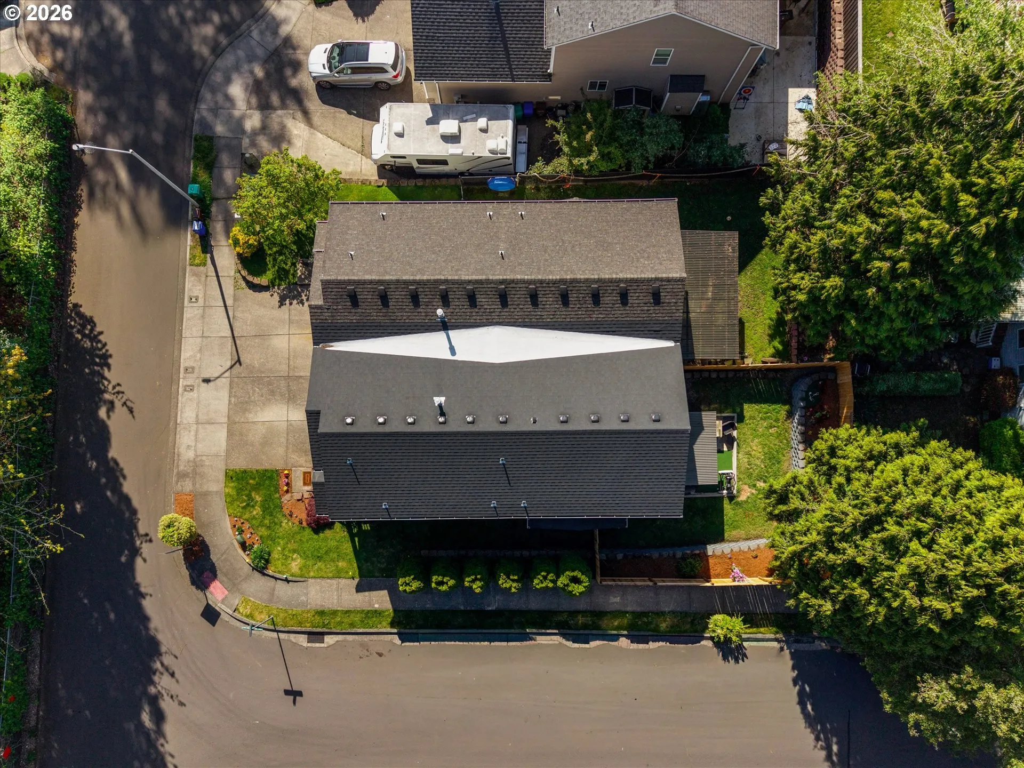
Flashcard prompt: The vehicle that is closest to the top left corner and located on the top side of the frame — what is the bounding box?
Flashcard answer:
[303,42,404,92]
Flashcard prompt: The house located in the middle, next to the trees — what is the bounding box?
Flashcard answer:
[304,199,691,528]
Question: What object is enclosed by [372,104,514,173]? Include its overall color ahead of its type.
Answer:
white camper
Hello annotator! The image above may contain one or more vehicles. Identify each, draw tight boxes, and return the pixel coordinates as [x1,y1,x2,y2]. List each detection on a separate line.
[372,104,514,173]
[303,42,404,92]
